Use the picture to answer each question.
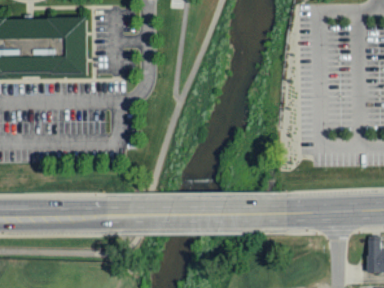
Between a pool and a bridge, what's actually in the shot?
bridge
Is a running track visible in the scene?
No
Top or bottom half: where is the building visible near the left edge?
top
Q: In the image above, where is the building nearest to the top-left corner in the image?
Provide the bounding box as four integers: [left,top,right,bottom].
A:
[0,14,86,80]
